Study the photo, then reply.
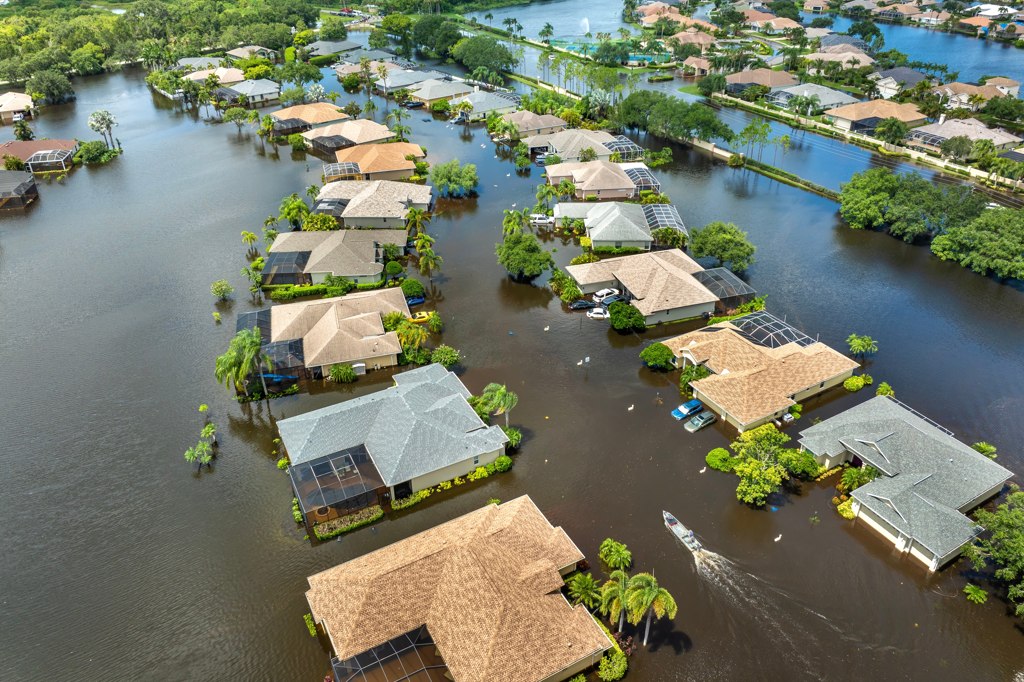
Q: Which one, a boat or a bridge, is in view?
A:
boat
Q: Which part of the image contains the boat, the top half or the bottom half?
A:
bottom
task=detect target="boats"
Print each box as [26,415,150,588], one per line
[663,509,705,556]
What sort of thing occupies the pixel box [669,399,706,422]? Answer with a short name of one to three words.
car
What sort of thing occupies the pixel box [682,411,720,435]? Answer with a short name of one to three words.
car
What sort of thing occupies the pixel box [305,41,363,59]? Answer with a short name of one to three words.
house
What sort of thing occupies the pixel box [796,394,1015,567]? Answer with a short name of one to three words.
house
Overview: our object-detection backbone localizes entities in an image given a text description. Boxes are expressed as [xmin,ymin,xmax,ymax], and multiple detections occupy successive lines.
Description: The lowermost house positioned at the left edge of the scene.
[0,165,40,207]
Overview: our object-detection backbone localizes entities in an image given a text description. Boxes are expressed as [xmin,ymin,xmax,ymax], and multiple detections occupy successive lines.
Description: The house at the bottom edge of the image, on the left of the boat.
[304,494,614,682]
